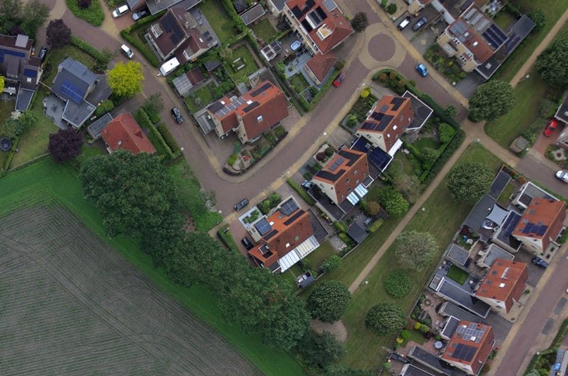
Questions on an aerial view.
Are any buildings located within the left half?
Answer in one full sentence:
Yes, a building is visible within the left half.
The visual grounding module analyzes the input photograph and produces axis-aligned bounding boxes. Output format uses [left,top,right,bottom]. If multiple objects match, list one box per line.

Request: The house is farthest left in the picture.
[0,34,42,115]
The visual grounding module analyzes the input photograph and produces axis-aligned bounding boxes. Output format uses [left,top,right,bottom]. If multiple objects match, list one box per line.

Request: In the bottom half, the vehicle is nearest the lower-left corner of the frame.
[240,234,253,252]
